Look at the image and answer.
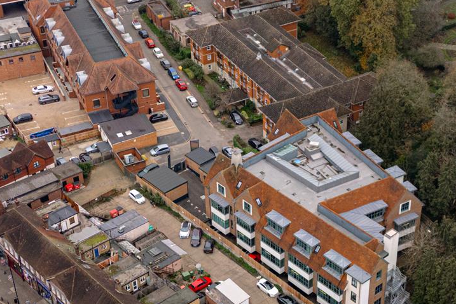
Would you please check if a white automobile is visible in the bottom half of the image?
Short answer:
Yes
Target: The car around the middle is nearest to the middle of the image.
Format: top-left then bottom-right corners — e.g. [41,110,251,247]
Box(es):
[220,145,235,161]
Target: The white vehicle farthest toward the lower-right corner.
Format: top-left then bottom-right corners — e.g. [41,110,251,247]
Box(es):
[254,279,280,299]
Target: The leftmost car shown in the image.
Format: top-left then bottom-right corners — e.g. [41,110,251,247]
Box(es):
[10,113,35,125]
